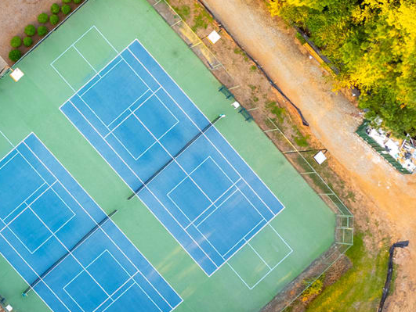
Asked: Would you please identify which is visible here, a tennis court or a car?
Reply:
tennis court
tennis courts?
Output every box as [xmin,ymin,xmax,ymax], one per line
[51,26,294,290]
[0,131,183,312]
